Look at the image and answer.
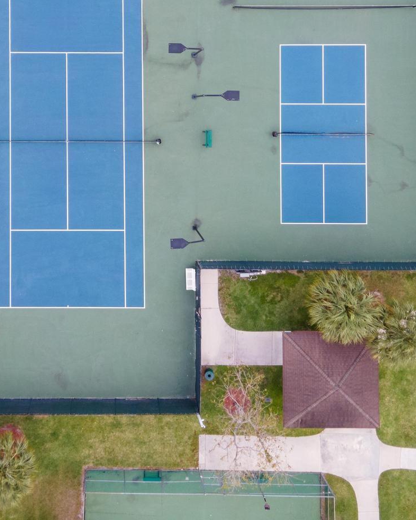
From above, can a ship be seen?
No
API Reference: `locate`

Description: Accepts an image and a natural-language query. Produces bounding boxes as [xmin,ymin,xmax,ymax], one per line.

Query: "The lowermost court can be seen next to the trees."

[83,471,323,520]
